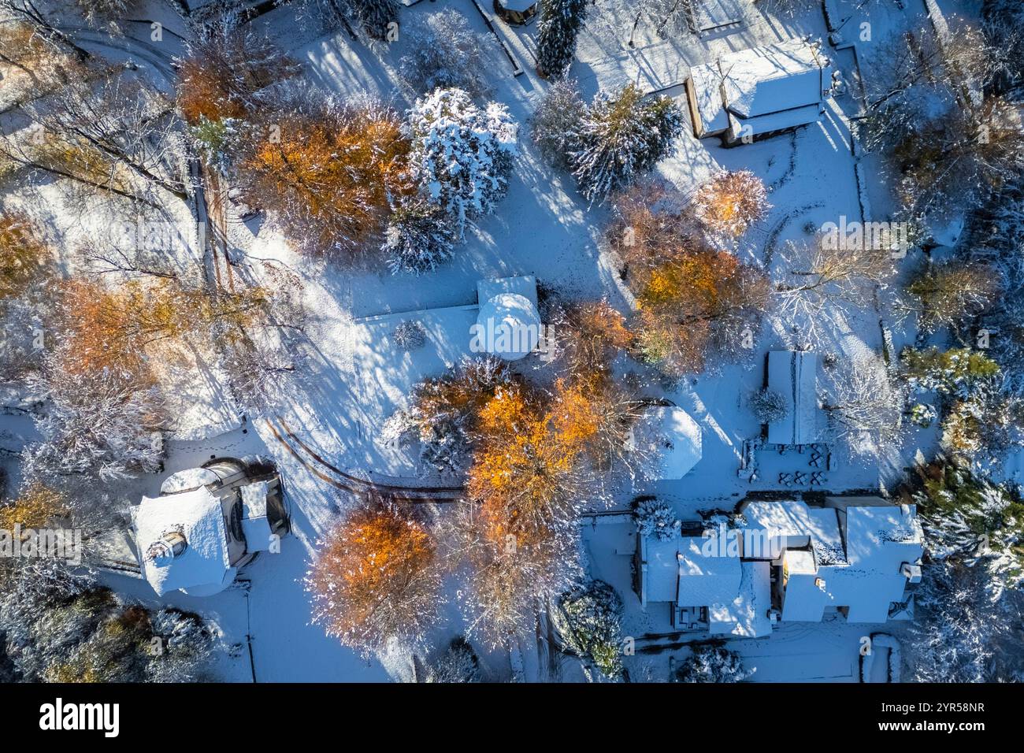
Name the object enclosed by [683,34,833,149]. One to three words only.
house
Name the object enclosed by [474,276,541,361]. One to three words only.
building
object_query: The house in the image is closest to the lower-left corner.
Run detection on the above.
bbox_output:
[130,456,290,598]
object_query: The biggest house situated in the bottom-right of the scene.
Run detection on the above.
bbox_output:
[635,493,925,638]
